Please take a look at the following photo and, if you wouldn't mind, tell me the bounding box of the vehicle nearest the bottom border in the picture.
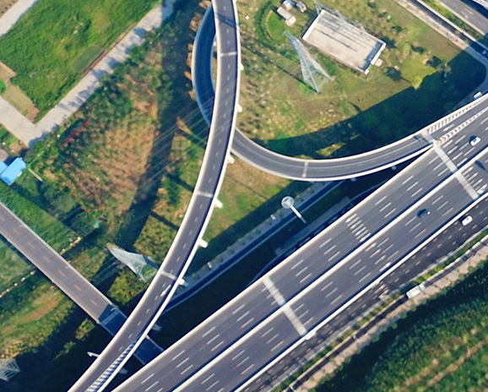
[407,285,423,298]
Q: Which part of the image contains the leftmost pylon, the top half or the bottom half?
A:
bottom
